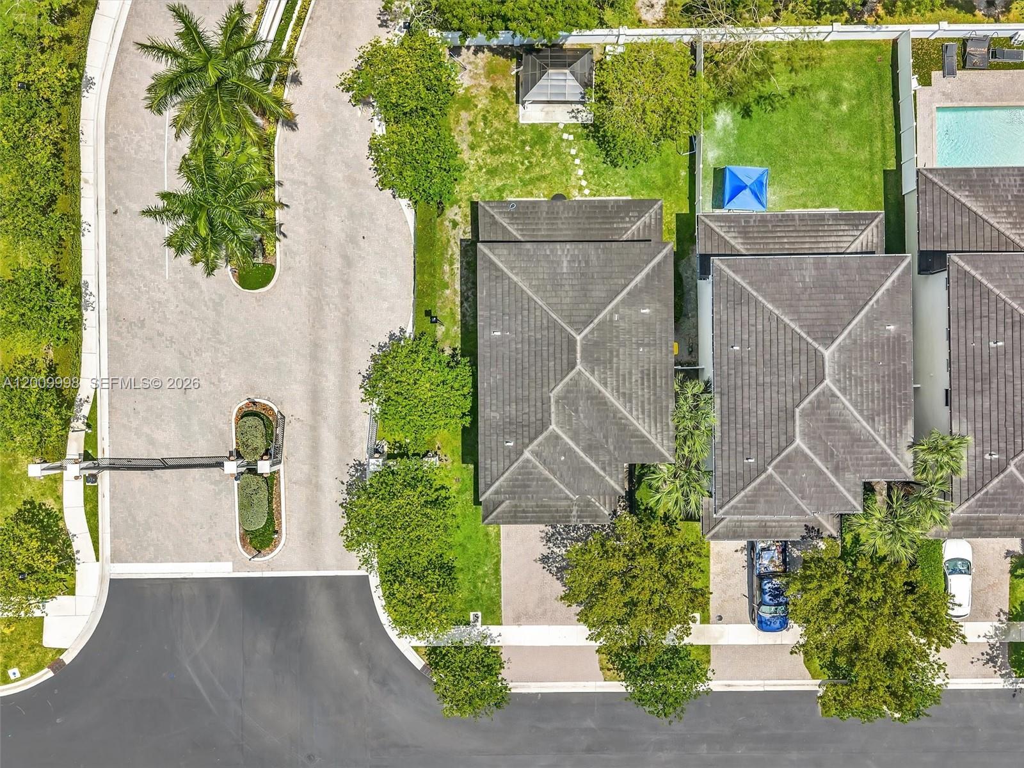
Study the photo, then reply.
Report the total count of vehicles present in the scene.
2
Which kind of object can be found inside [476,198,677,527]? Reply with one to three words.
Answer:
house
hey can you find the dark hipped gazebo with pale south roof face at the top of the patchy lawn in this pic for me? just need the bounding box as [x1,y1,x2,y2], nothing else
[523,48,594,114]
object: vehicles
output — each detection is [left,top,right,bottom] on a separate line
[753,541,797,634]
[937,540,978,619]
